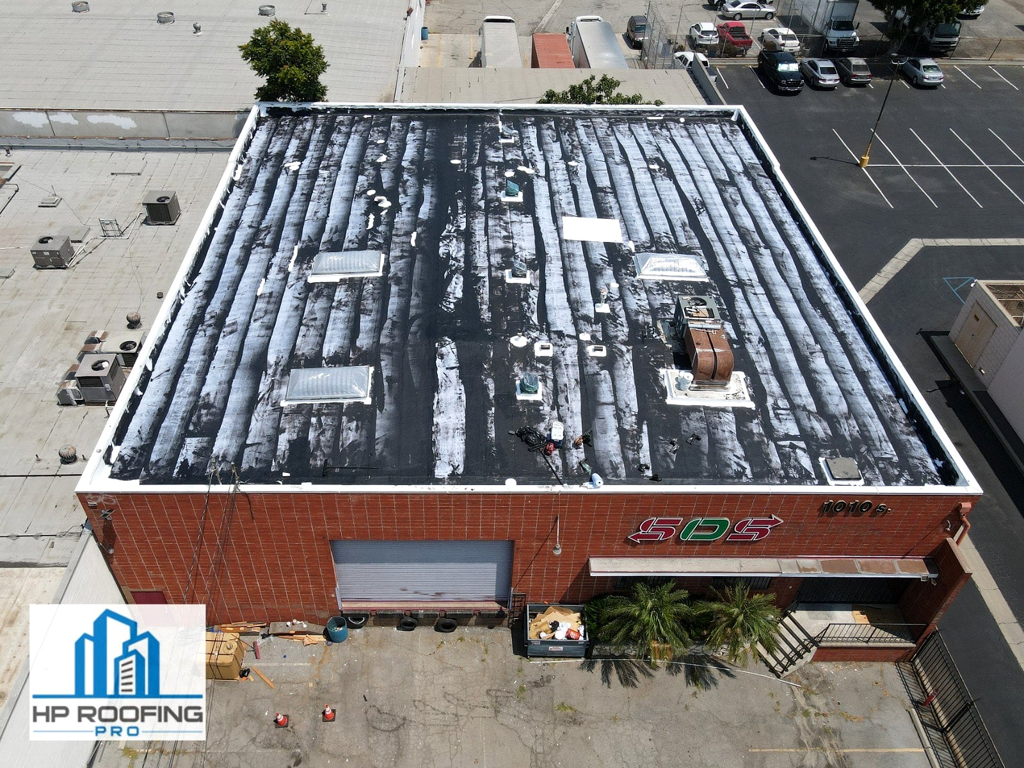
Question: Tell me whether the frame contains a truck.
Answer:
Yes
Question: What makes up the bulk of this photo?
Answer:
buildings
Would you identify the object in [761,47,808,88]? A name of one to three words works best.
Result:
truck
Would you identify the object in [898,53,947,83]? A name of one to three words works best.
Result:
car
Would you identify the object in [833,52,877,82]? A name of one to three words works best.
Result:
car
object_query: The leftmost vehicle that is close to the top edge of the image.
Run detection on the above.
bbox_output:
[478,13,524,69]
